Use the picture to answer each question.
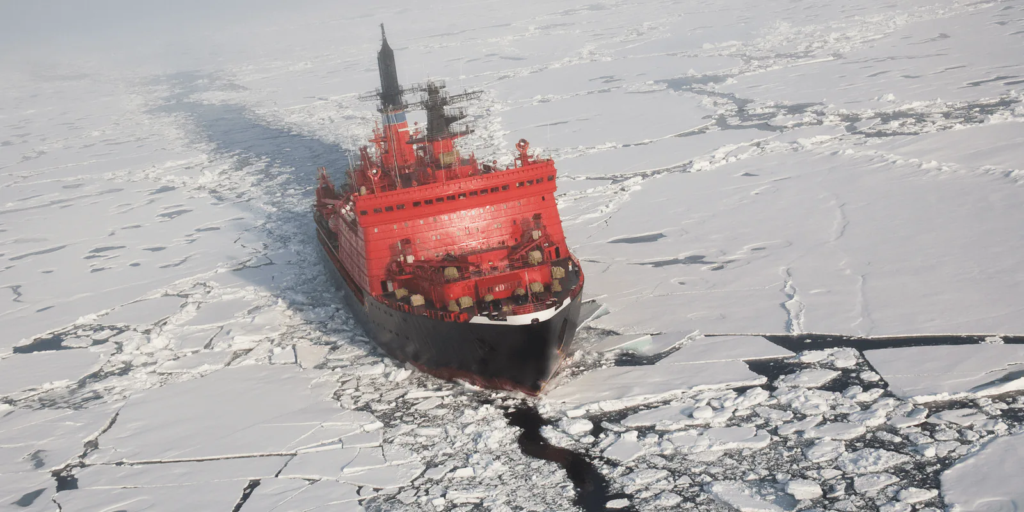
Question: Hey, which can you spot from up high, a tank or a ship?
ship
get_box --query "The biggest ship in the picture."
[312,24,586,399]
